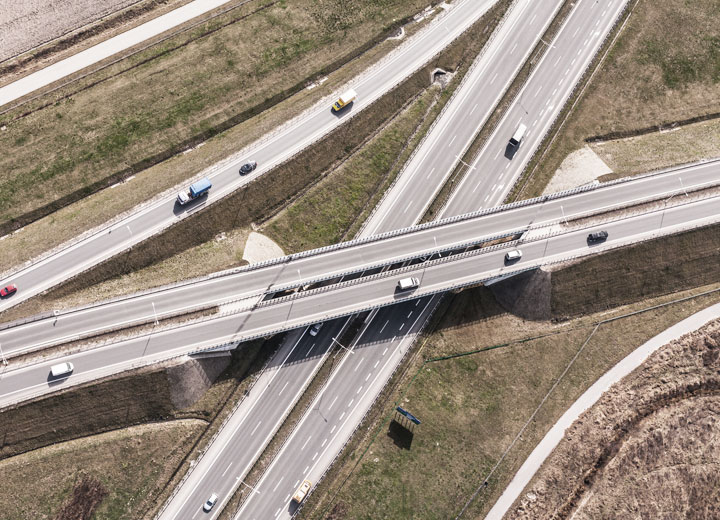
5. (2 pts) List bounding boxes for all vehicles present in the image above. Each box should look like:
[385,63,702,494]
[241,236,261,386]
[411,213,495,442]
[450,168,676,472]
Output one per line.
[202,493,219,511]
[509,121,529,145]
[397,278,419,291]
[240,162,257,175]
[310,323,323,337]
[0,284,18,298]
[292,480,311,504]
[177,179,210,206]
[589,232,606,242]
[505,251,522,261]
[330,90,357,115]
[48,363,75,377]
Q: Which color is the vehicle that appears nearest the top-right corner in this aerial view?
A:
white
